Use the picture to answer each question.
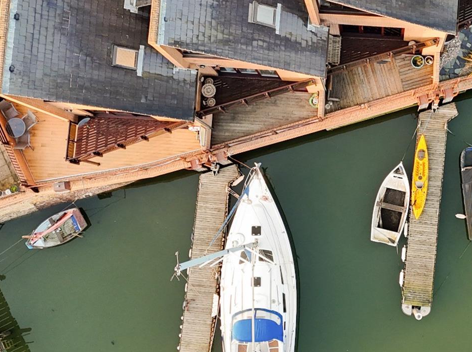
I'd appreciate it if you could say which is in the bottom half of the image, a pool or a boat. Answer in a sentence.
Visible in the bottom half of the image is a boat.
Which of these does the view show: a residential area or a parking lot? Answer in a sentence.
It's a residential area.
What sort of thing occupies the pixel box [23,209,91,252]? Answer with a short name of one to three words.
boat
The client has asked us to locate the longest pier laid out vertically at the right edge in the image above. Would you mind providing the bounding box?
[400,103,458,317]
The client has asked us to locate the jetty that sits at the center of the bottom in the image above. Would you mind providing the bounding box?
[178,164,241,352]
